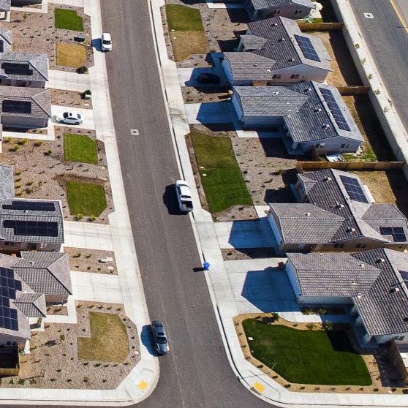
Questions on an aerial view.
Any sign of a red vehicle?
No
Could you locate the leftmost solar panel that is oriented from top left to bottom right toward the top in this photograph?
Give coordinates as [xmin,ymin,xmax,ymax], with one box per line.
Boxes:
[295,34,320,62]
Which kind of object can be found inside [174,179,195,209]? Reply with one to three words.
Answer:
vehicle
